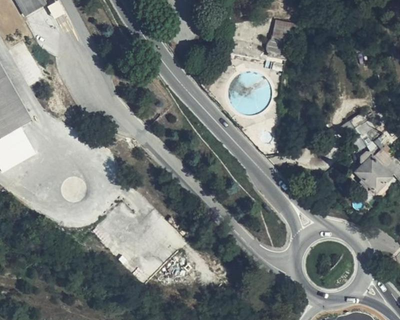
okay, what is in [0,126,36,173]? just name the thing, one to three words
building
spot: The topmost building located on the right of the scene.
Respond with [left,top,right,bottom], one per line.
[266,18,296,54]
